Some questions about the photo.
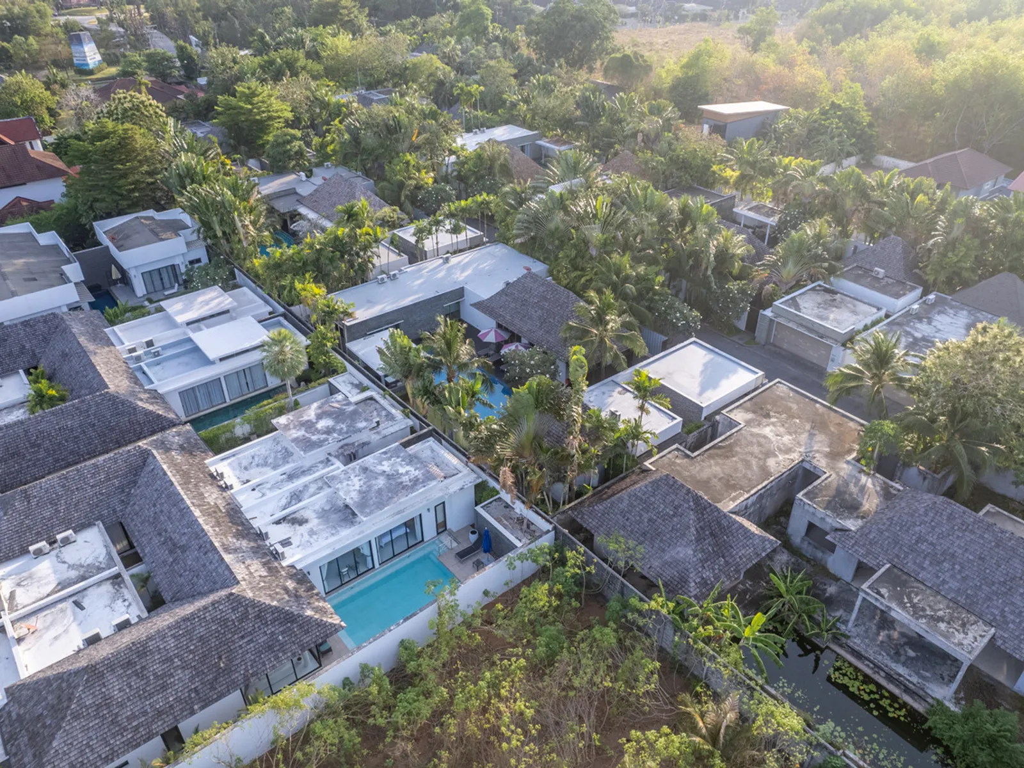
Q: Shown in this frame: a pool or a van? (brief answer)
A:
pool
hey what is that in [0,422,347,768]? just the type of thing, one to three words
house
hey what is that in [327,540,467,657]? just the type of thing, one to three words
swimming pool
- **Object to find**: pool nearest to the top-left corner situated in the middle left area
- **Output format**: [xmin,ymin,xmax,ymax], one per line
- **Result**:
[80,290,134,325]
